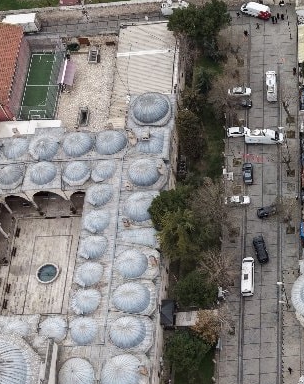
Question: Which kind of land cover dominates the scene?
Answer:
buildings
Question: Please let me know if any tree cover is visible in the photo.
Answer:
Yes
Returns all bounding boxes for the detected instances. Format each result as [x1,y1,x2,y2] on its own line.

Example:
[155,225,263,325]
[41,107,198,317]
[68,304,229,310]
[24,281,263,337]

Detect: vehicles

[253,201,278,216]
[227,84,251,96]
[228,97,252,108]
[225,125,244,137]
[241,0,272,17]
[224,192,250,205]
[238,254,254,294]
[251,234,268,263]
[241,161,253,184]
[241,125,284,144]
[263,68,277,101]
